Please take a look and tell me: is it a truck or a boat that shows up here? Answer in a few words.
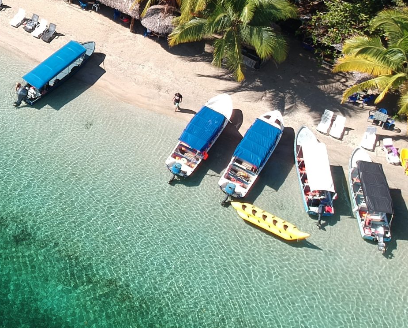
boat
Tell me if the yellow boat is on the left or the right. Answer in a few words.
right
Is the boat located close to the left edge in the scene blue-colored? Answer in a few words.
Yes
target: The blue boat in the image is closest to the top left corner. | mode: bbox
[14,36,95,113]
